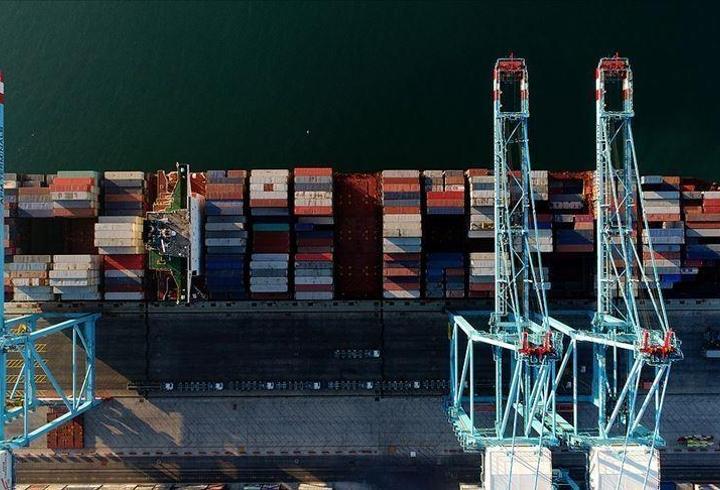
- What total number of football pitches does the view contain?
0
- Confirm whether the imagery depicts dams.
No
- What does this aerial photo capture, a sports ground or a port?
port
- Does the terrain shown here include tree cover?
No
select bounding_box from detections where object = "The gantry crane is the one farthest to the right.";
[527,51,691,490]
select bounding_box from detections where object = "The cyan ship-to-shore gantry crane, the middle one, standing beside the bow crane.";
[439,51,568,490]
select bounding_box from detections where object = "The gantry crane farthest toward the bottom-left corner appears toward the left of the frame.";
[0,60,104,490]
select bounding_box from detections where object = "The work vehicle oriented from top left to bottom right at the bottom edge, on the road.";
[557,459,588,490]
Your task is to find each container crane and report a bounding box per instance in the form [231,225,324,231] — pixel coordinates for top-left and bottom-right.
[439,51,568,490]
[527,51,691,490]
[0,60,104,490]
